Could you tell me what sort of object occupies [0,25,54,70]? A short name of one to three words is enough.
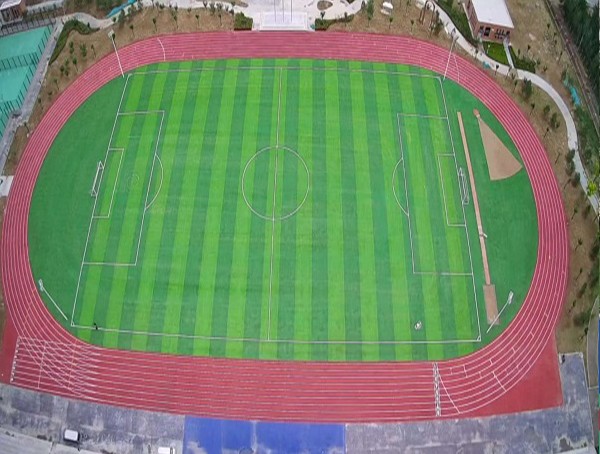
sports court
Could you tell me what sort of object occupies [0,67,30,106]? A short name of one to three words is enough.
sports court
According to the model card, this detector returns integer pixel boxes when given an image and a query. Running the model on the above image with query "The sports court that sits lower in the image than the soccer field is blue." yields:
[183,415,346,454]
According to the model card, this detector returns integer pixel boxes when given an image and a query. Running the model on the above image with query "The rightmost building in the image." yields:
[459,0,515,46]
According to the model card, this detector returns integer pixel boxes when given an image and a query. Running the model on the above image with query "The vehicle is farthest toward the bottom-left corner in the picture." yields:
[63,430,83,445]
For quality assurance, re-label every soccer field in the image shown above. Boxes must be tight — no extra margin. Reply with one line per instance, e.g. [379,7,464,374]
[28,60,538,362]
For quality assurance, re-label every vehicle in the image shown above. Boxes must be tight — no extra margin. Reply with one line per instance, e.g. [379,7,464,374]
[155,447,179,454]
[63,430,83,445]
